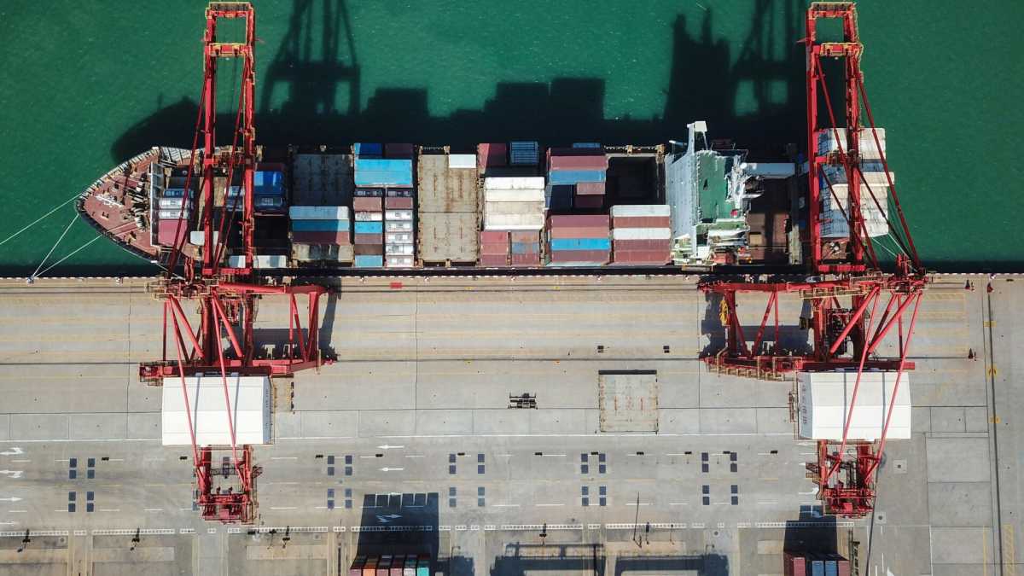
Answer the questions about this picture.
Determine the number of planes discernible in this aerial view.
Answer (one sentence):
Not a single plane can be seen.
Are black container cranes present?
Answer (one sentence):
No, there appears to be no black container crane in this shot.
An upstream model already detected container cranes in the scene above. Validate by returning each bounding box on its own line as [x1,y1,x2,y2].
[138,1,351,525]
[692,5,940,517]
